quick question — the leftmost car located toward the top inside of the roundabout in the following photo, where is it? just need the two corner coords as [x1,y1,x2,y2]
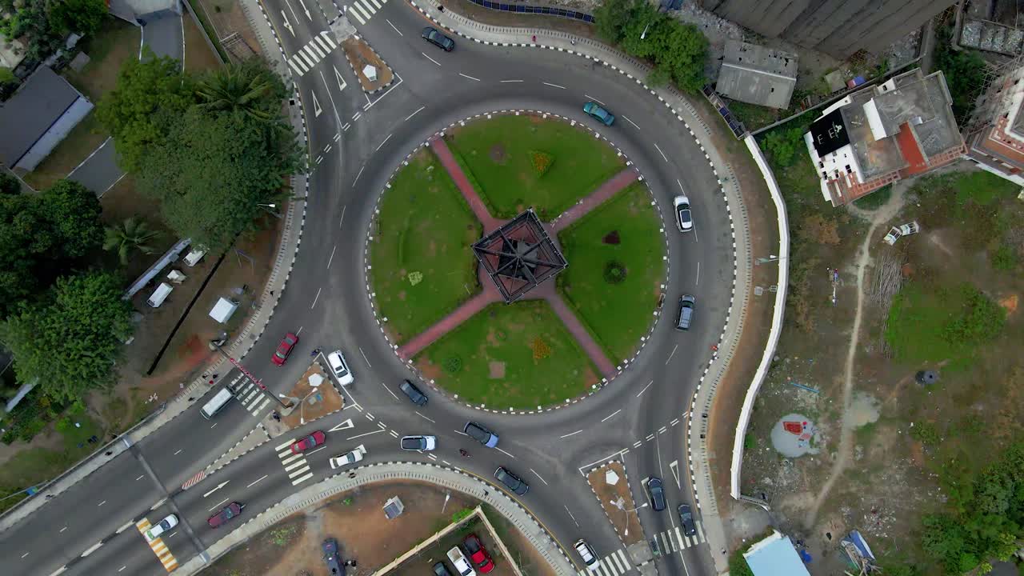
[581,100,617,128]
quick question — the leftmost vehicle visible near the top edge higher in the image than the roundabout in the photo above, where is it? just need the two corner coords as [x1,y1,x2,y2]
[420,24,457,53]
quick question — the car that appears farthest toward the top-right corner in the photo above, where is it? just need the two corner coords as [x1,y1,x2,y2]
[672,195,692,232]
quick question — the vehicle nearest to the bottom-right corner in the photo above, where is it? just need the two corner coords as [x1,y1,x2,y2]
[676,503,696,539]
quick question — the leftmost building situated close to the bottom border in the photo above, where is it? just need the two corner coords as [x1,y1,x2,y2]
[737,527,811,576]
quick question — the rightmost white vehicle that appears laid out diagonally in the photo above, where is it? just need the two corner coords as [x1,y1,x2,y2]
[573,538,601,573]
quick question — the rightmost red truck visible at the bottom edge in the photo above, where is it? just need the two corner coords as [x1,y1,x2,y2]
[463,532,495,575]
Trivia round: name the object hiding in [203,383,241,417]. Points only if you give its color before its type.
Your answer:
white vehicle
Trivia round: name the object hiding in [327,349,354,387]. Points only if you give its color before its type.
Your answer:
white car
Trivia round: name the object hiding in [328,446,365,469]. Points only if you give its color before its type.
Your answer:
white car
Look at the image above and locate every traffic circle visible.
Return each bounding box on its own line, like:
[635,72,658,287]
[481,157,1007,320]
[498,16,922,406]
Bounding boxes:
[320,65,714,459]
